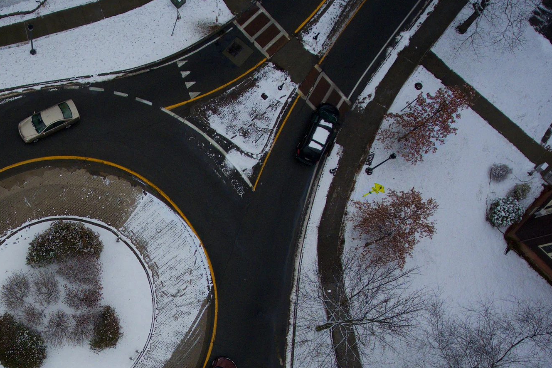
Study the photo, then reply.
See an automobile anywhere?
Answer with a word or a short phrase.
Yes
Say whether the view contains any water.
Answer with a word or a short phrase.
No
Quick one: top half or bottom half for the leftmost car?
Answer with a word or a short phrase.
top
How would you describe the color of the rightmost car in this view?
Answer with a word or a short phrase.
black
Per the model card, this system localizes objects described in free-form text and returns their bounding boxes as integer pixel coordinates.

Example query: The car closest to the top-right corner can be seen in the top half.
[294,100,340,166]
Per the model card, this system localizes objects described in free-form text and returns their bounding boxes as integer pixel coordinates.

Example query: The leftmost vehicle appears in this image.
[19,99,80,141]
